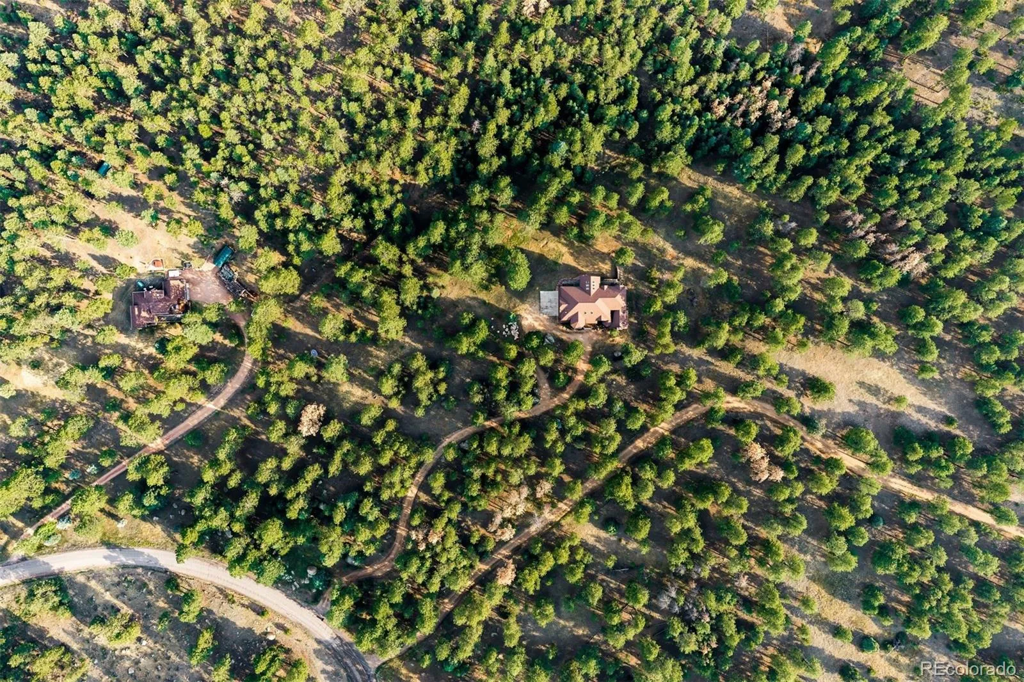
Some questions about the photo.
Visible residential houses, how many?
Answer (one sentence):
The number of residential houses here is 2.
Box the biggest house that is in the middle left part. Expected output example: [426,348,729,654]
[130,280,190,329]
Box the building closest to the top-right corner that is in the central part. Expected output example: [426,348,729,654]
[558,275,627,329]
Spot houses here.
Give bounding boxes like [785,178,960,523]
[130,280,190,329]
[558,275,627,329]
